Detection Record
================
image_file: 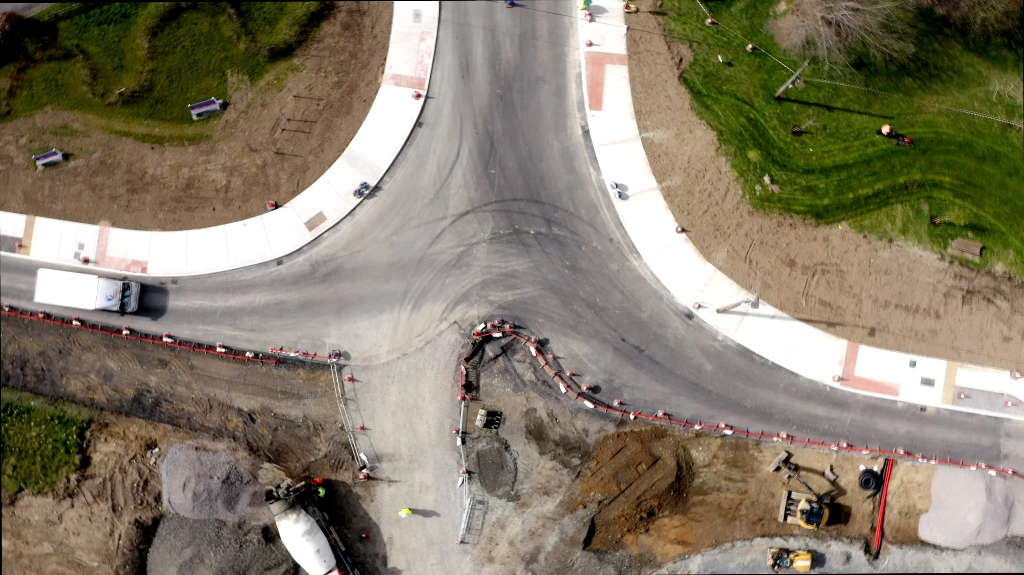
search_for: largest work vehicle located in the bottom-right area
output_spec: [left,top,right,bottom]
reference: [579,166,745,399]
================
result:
[768,449,832,531]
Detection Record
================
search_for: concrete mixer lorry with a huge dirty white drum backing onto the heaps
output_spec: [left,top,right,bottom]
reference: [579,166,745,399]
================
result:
[262,469,353,575]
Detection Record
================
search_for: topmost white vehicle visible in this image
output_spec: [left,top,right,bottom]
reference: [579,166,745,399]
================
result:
[39,268,144,315]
